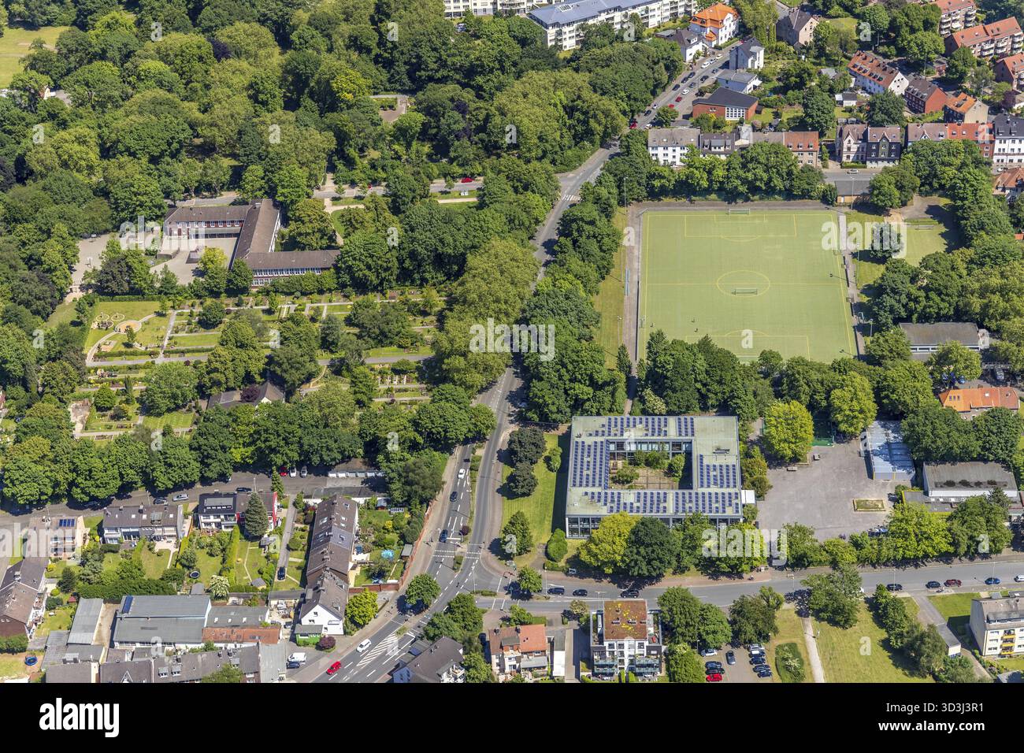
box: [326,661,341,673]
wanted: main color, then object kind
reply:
red vehicle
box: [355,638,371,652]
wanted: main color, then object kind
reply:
white vehicle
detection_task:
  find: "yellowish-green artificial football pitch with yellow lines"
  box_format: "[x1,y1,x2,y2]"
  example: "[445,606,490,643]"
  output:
[633,209,864,370]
